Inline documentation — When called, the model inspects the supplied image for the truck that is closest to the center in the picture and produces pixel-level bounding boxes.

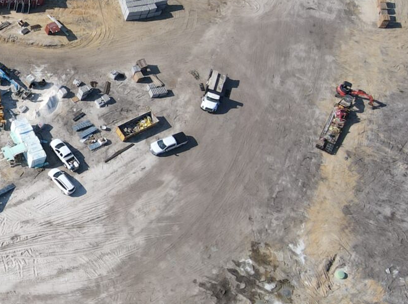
[148,133,189,157]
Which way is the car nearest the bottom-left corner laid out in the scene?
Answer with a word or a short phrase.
on a diagonal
